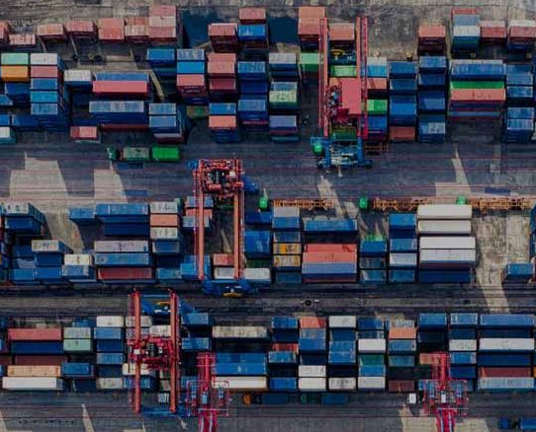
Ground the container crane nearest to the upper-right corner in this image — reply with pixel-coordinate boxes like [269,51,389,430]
[310,18,374,169]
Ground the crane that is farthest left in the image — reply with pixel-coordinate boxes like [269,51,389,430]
[128,291,197,423]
